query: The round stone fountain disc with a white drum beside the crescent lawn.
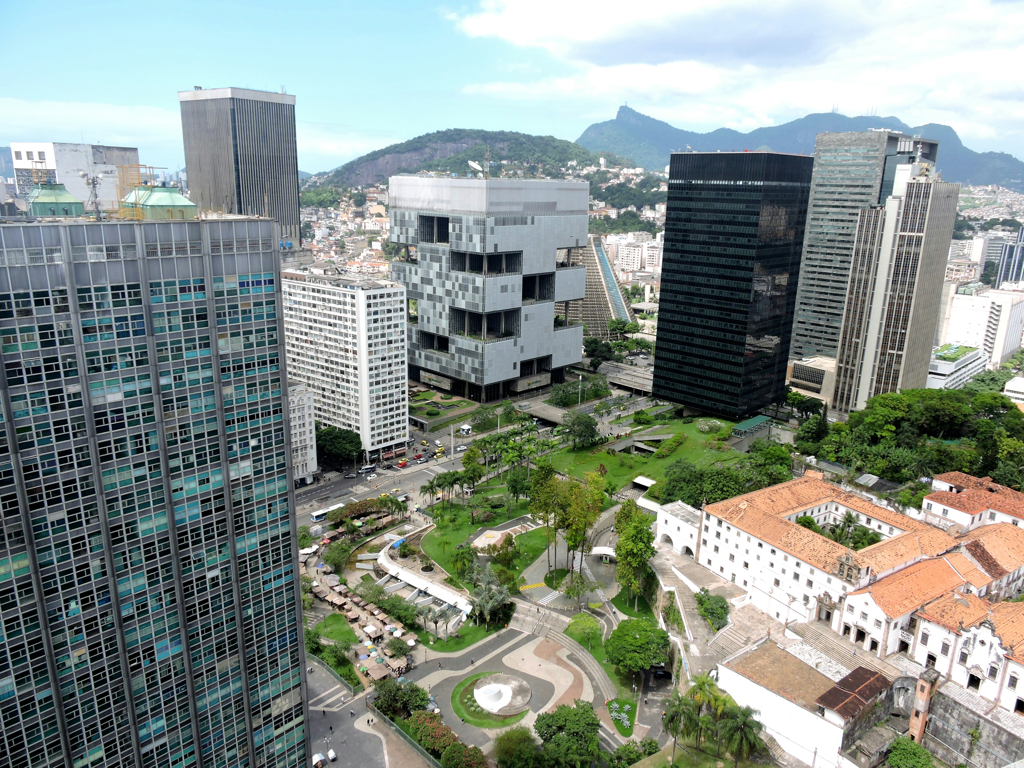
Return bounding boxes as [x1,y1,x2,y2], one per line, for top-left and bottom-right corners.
[475,673,531,712]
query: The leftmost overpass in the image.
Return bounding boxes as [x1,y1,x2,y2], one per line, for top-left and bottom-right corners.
[519,396,573,428]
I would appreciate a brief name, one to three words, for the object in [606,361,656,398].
overpass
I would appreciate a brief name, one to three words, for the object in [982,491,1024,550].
building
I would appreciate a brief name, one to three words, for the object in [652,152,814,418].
building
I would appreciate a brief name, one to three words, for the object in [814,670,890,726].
shed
